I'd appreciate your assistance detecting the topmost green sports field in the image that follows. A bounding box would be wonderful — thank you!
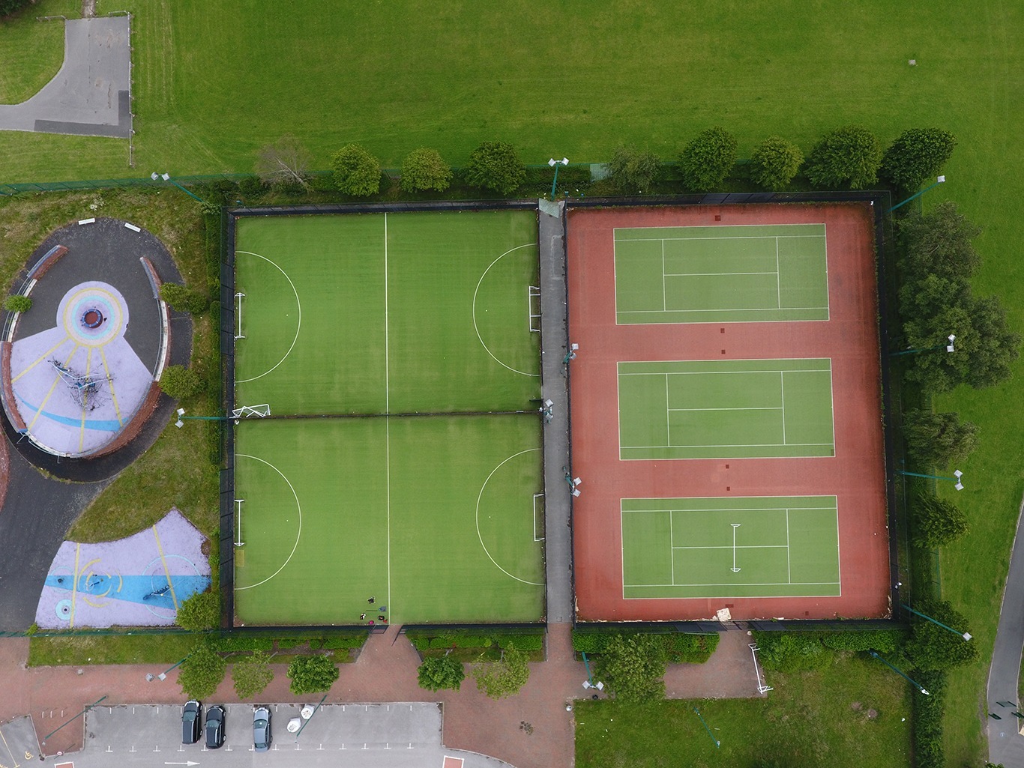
[235,209,541,416]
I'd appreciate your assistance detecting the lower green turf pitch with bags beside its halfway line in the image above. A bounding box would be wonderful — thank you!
[234,413,545,627]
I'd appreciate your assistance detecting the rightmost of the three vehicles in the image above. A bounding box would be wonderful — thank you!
[250,707,272,752]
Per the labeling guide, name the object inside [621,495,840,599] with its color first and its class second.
green tennis court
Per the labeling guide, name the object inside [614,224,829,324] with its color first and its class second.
green tennis court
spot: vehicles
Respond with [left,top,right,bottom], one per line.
[250,707,272,752]
[202,705,225,749]
[179,701,202,743]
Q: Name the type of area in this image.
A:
sports ground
